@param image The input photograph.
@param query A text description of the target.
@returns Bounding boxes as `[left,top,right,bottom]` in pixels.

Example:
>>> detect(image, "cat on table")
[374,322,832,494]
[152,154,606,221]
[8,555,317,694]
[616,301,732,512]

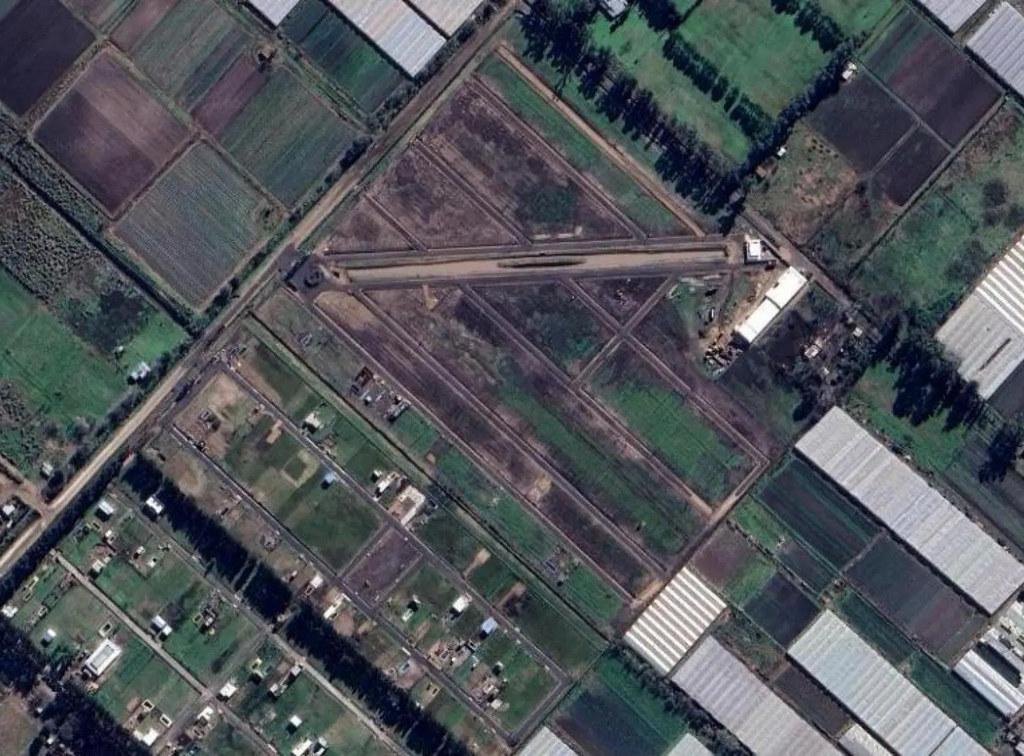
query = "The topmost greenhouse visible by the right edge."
[922,0,984,31]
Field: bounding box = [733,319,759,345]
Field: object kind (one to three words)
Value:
building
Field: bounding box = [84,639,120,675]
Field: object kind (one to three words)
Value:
house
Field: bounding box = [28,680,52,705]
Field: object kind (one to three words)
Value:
barn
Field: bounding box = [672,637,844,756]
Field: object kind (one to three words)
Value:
greenhouse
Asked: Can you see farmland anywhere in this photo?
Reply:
Yes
